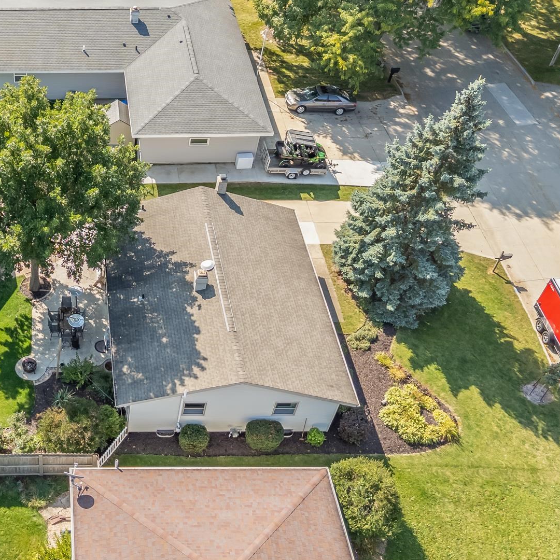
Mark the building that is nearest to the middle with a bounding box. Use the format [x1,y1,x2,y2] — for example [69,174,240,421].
[100,174,362,441]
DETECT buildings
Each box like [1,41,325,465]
[0,0,276,164]
[67,464,356,560]
[100,174,362,441]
